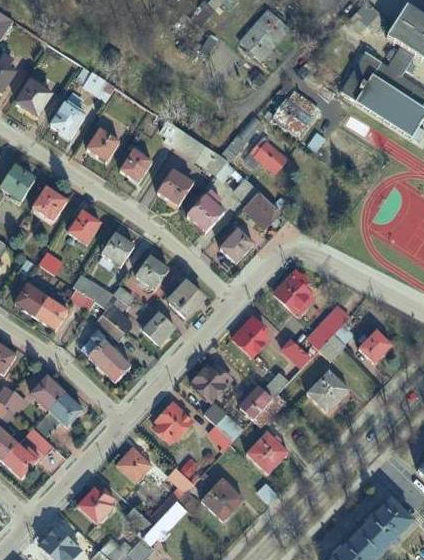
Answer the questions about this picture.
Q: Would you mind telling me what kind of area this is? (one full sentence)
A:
The picture captures a residential area.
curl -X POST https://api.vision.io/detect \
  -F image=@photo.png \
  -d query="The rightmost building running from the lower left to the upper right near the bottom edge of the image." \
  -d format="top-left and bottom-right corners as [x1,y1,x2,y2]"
[329,494,415,560]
